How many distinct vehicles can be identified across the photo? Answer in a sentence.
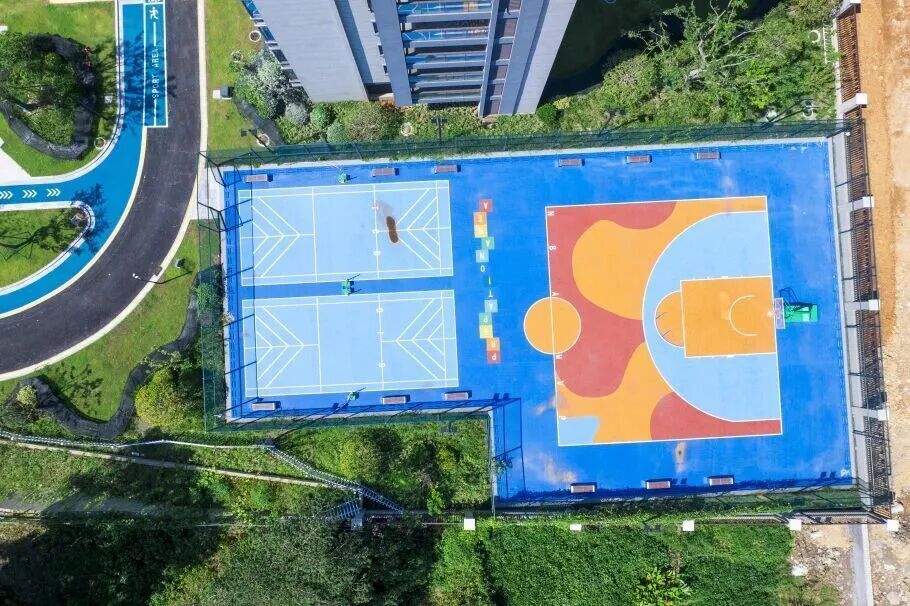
The picture shows no vehicles.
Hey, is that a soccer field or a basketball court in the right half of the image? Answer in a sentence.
It is a basketball court that can be seen in the right half of the image.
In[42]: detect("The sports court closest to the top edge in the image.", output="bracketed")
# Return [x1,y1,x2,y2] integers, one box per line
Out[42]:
[239,180,453,285]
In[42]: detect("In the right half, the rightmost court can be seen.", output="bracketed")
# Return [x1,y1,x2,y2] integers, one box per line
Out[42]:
[523,195,783,446]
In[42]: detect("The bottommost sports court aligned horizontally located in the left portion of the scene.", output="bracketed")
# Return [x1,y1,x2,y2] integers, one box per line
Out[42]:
[243,291,459,396]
